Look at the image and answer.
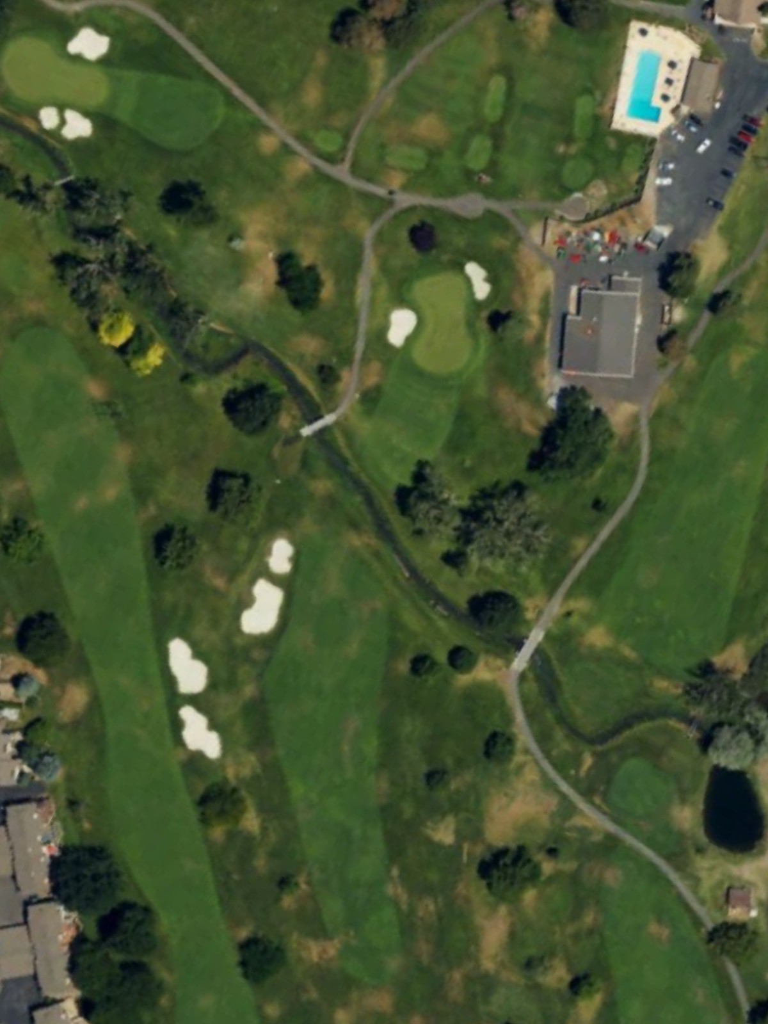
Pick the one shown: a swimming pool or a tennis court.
swimming pool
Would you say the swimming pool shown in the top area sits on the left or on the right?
right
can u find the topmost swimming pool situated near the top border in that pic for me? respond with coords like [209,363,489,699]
[611,20,701,139]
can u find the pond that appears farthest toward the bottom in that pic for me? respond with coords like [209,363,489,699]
[703,764,764,853]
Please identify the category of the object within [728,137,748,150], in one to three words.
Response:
vehicle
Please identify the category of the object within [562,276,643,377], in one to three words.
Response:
building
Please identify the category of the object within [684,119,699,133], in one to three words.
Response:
car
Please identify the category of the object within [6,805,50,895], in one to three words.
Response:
house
